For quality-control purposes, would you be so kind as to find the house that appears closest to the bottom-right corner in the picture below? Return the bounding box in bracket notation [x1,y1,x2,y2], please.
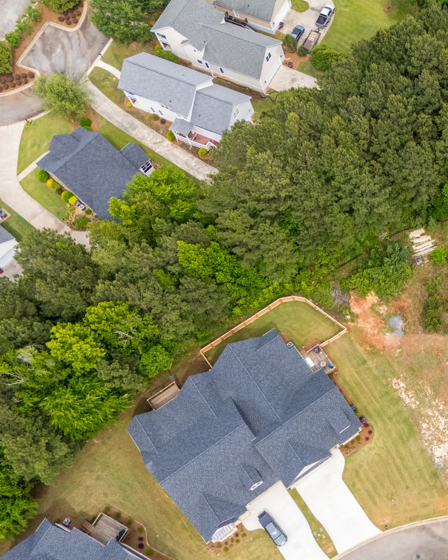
[127,327,362,543]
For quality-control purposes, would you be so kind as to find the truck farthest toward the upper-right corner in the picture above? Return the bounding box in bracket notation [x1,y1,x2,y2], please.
[313,4,335,31]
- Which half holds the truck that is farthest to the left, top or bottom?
bottom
